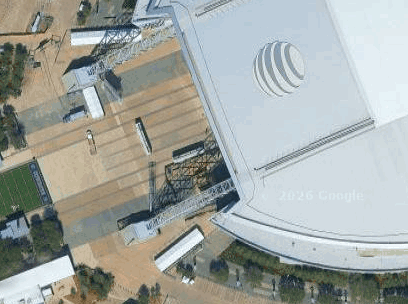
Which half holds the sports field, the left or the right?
left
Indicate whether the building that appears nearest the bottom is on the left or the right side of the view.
left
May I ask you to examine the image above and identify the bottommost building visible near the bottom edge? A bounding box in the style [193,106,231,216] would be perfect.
[0,256,76,304]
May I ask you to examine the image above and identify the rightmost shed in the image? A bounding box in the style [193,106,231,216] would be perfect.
[153,230,206,275]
